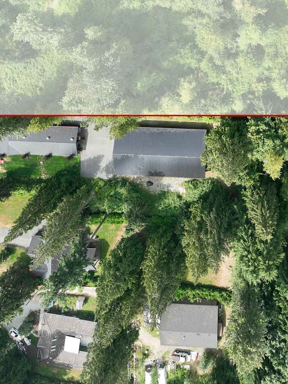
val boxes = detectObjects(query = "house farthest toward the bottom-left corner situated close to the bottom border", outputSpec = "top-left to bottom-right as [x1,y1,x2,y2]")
[34,305,100,373]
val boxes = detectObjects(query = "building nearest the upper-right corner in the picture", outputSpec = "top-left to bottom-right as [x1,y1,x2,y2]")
[112,124,207,179]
